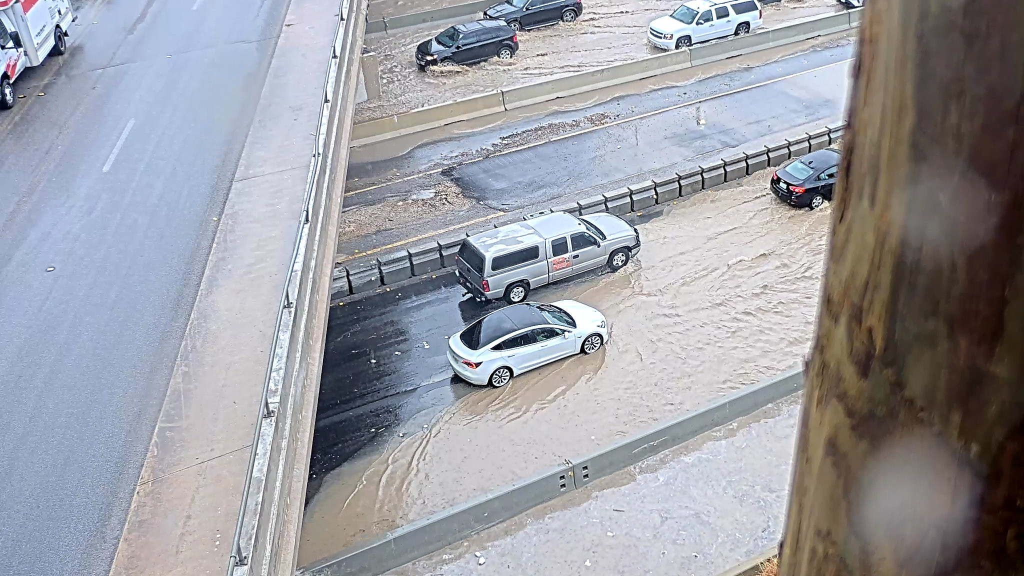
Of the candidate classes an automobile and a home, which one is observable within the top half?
automobile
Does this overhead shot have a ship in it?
No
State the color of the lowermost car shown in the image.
white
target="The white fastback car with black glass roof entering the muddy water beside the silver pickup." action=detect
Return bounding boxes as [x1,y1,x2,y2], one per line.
[445,292,611,388]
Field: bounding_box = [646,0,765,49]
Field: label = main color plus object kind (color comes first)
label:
white car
